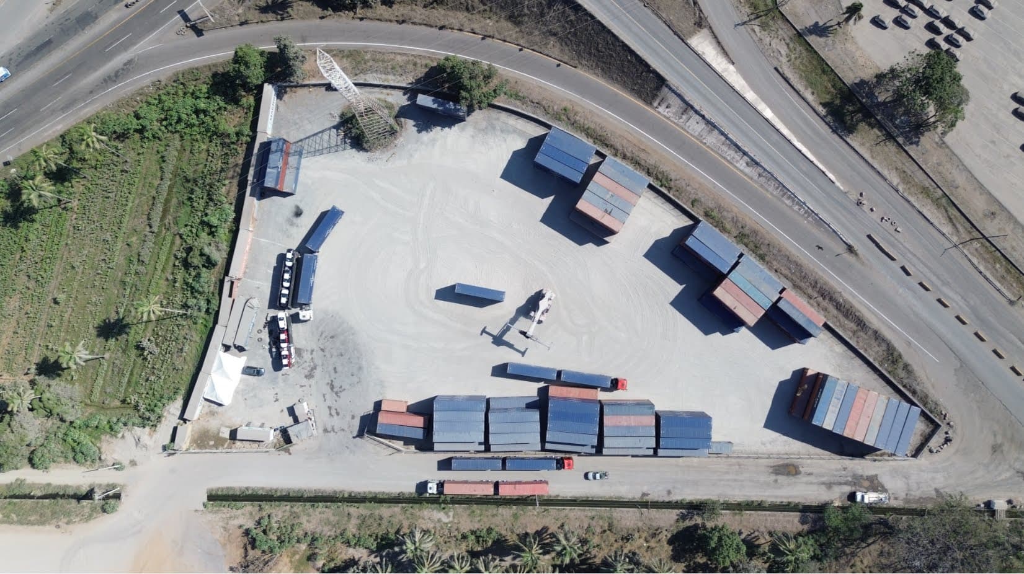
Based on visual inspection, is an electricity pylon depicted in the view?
Yes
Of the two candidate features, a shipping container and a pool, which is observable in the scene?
shipping container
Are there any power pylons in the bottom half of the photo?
No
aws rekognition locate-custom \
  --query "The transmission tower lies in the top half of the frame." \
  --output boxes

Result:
[319,48,398,140]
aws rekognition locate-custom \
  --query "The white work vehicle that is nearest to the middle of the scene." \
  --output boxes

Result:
[508,286,557,347]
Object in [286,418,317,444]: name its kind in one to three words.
building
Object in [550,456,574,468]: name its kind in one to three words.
vehicle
